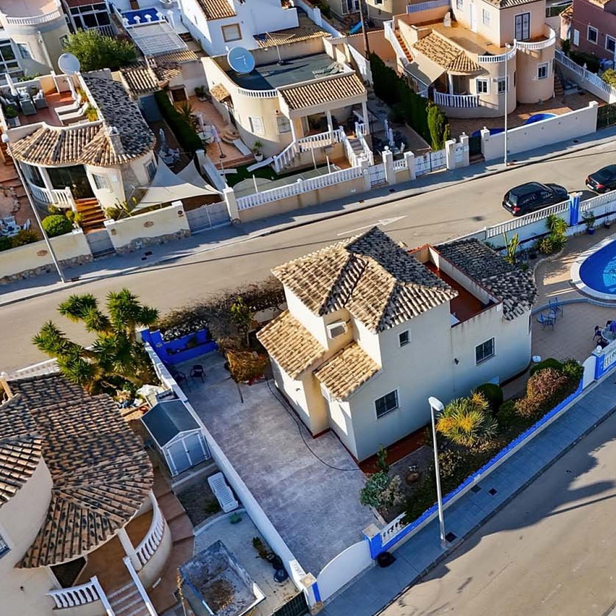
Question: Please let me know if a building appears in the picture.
Yes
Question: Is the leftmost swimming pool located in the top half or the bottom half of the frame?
top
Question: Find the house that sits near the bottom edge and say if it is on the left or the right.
left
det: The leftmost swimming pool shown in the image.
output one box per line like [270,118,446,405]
[118,8,163,29]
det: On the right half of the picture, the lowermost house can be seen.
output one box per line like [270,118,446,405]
[258,224,543,465]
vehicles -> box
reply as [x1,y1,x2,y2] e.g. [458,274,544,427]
[585,161,616,193]
[500,180,572,220]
